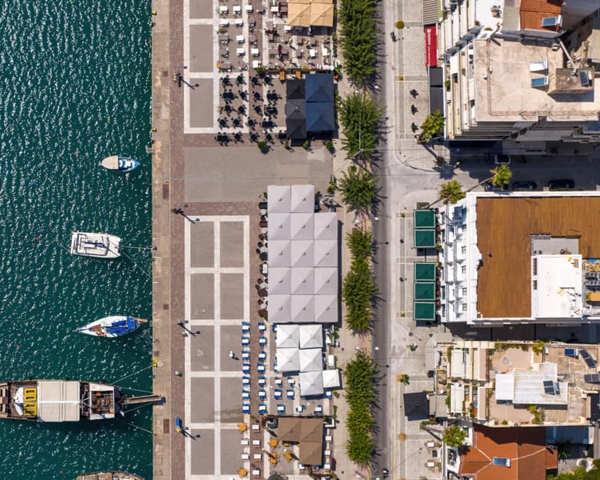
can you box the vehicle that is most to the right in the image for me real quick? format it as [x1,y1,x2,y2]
[547,175,580,190]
